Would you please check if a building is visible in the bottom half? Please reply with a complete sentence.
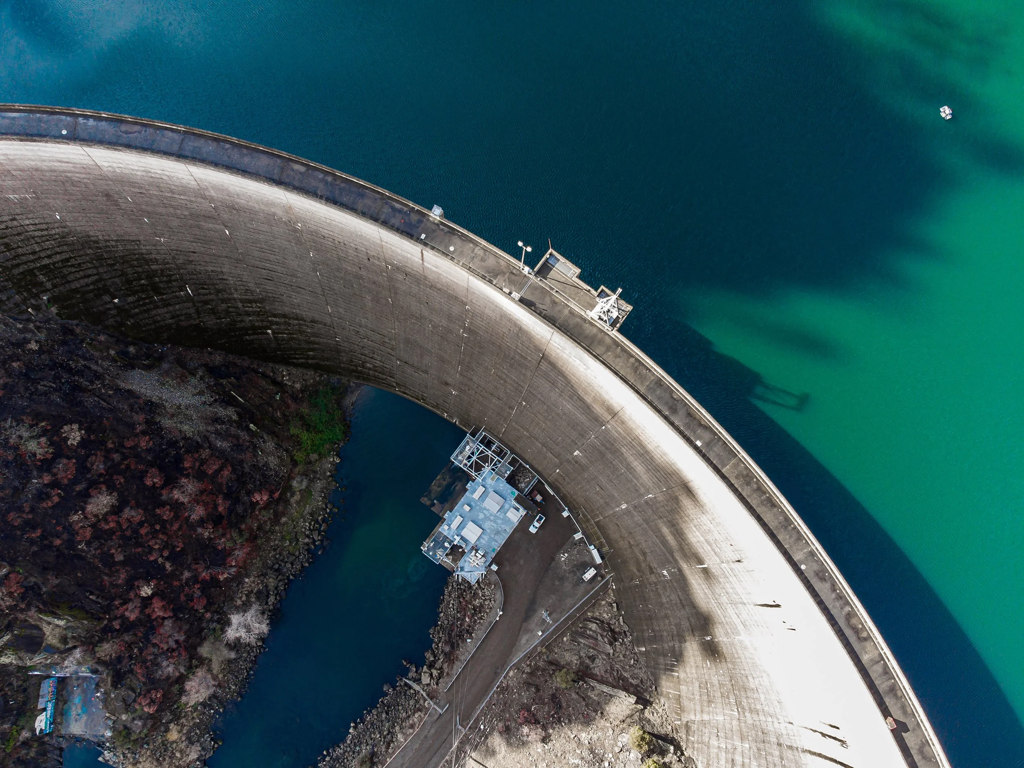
Yes, a building appears in the bottom half.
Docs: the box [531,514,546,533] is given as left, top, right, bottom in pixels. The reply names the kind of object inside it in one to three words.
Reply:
vehicle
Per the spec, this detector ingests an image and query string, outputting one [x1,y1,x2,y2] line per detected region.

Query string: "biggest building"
[439,475,526,584]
